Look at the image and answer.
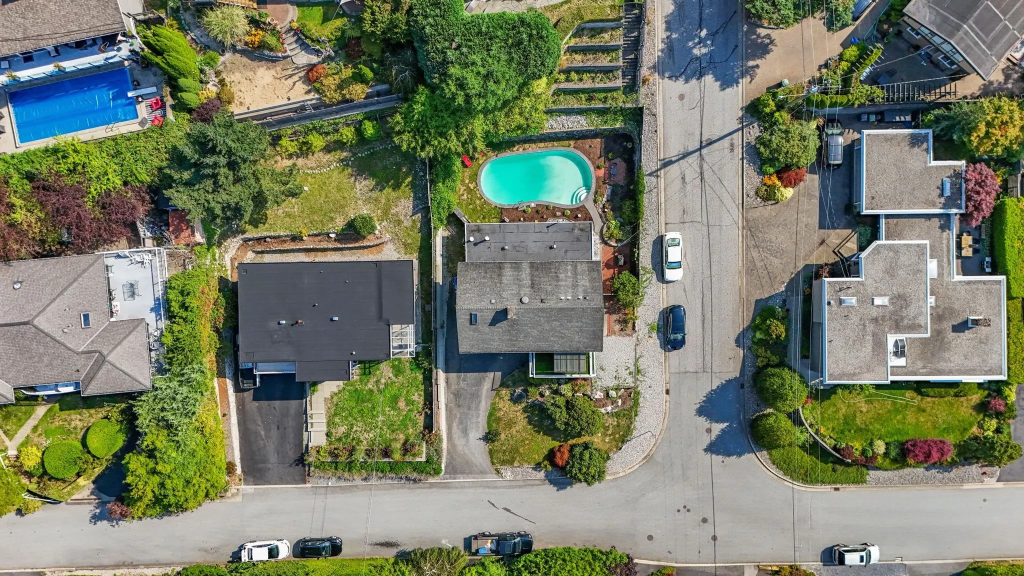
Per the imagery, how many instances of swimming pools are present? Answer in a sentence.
My tally gives 2 swimming pools in this view.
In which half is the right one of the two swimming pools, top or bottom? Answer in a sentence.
You can find the right one of the two swimming pools in the top half.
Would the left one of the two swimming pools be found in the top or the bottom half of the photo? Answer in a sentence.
Seen from above, the left one of the two swimming pools lies in the top half of the view.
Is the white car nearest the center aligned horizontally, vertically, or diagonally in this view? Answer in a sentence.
The white car nearest the center has been laid out vertically relative to the frame.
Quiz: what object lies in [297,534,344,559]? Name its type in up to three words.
car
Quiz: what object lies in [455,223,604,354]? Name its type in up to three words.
house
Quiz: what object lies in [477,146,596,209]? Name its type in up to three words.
swimming pool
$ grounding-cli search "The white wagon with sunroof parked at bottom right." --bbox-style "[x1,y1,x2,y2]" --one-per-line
[831,540,880,566]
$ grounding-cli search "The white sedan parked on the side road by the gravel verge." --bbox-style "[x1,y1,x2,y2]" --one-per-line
[662,231,685,283]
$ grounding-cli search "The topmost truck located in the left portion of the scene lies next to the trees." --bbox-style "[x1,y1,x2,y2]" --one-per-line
[236,351,262,399]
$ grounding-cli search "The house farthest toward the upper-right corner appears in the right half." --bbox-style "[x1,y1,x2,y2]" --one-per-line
[889,0,1024,86]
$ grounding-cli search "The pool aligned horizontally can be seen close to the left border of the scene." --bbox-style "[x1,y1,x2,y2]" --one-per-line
[4,65,141,149]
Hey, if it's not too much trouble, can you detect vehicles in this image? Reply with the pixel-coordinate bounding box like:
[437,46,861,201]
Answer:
[236,351,262,399]
[831,540,880,566]
[664,305,687,351]
[662,231,685,283]
[243,537,291,561]
[818,119,846,171]
[474,530,531,556]
[297,534,344,559]
[838,0,880,33]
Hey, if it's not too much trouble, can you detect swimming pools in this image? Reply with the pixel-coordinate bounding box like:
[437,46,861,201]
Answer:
[4,65,141,149]
[477,146,596,209]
